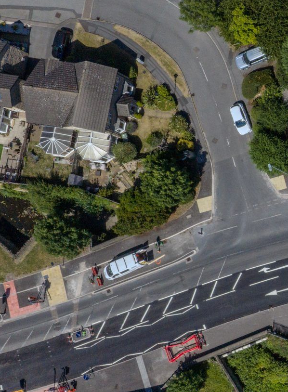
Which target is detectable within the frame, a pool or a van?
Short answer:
van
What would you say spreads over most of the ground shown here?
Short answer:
paved ground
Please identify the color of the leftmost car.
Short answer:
black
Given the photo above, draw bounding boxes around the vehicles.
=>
[50,26,77,61]
[235,49,270,68]
[105,250,156,279]
[230,103,253,136]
